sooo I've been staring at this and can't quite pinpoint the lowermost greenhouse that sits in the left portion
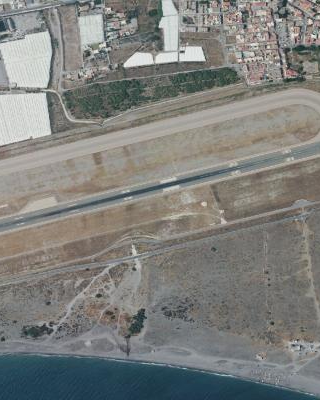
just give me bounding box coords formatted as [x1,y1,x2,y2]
[0,93,51,145]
